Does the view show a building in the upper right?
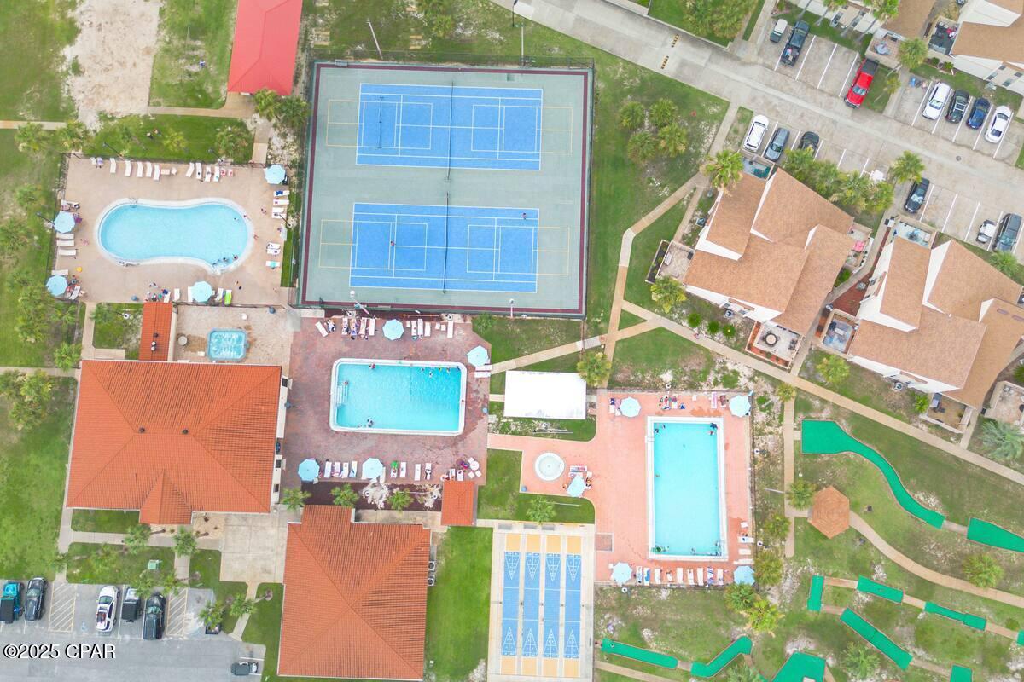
Yes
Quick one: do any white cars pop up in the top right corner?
Yes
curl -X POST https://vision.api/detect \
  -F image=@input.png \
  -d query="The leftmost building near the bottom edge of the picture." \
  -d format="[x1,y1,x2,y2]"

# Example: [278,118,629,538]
[277,504,433,682]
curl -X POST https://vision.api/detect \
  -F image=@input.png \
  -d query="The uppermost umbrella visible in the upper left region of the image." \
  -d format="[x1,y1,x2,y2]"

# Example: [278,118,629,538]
[266,163,287,183]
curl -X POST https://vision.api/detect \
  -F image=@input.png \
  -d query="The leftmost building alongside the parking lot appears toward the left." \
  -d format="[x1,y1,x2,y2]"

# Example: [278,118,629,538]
[65,358,288,525]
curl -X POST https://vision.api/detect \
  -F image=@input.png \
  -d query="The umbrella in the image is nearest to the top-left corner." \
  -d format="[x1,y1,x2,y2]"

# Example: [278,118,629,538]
[55,213,78,233]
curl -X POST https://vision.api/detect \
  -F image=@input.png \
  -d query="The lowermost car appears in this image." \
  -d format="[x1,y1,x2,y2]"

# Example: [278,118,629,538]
[228,659,260,679]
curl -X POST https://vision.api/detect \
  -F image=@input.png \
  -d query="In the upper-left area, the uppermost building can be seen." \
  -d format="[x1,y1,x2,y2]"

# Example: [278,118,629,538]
[227,0,305,98]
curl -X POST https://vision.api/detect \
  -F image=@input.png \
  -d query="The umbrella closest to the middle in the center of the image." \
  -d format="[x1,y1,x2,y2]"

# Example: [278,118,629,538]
[467,344,488,366]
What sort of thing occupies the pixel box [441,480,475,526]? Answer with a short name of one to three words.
shed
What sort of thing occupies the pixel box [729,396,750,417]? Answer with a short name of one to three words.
umbrella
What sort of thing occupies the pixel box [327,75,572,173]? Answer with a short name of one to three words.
tennis court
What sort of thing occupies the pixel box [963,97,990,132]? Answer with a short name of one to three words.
car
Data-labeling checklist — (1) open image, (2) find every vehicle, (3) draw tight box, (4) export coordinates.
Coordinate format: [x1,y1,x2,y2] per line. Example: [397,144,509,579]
[119,590,142,624]
[942,89,970,126]
[228,659,260,679]
[768,16,787,43]
[983,104,1012,145]
[142,593,169,639]
[991,210,1024,254]
[742,114,769,153]
[777,20,811,69]
[920,80,953,121]
[794,127,822,153]
[843,56,881,110]
[973,219,999,245]
[963,97,990,132]
[0,582,25,623]
[763,125,791,161]
[902,175,932,214]
[94,585,122,633]
[21,577,50,621]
